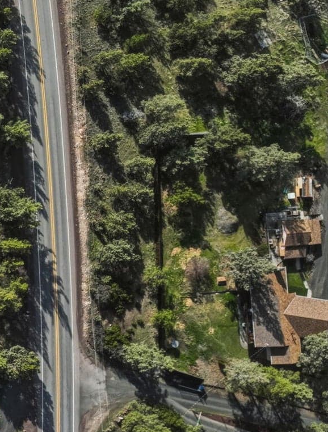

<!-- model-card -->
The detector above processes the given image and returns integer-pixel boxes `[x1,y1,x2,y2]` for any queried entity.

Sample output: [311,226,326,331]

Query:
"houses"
[270,219,322,260]
[241,267,328,365]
